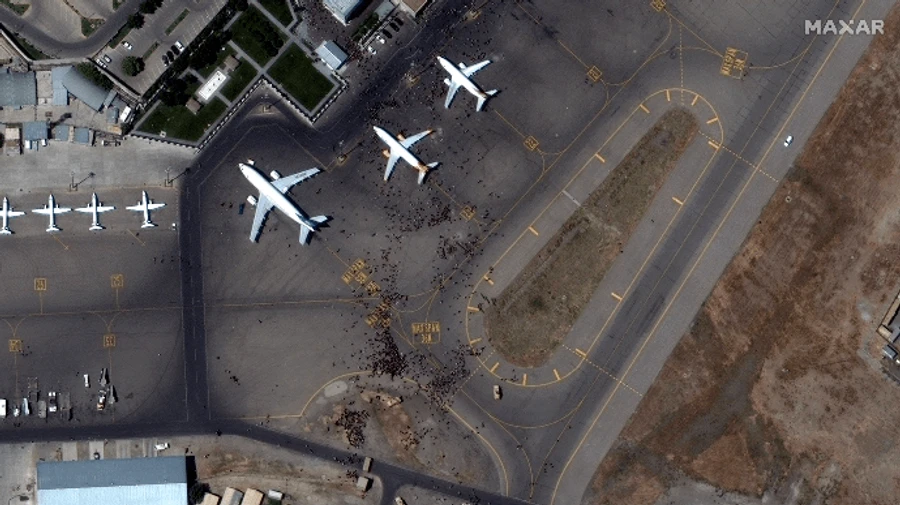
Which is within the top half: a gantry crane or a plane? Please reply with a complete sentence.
Visible within the top half is a plane.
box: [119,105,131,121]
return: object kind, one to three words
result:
vehicle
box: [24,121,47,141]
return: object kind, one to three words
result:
shed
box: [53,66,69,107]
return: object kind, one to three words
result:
shed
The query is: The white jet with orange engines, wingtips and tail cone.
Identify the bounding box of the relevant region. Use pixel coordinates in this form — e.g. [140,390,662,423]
[374,126,439,183]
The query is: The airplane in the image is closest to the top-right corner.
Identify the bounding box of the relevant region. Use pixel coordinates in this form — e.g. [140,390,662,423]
[435,54,501,112]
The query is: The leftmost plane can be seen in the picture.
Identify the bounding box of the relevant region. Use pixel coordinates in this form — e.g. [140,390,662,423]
[0,198,25,233]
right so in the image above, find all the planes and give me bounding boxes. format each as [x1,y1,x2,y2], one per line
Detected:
[124,191,164,226]
[75,193,114,228]
[374,126,439,183]
[31,195,71,228]
[0,198,25,233]
[239,162,330,245]
[435,54,501,112]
